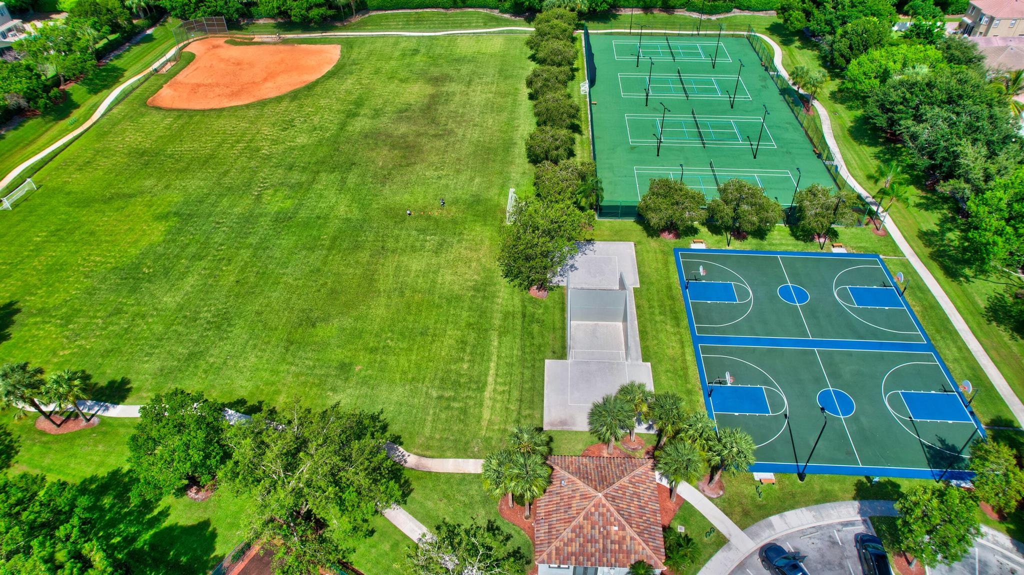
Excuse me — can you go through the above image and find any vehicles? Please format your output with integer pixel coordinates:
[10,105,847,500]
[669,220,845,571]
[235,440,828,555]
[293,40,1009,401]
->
[854,531,891,575]
[765,543,808,575]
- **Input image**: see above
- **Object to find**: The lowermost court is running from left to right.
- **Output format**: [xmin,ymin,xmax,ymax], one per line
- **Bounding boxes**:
[693,339,998,483]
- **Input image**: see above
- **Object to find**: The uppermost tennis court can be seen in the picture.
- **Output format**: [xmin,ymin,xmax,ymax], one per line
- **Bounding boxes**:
[589,35,764,68]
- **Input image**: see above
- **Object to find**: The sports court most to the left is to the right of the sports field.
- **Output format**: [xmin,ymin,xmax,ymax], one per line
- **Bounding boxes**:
[543,239,655,434]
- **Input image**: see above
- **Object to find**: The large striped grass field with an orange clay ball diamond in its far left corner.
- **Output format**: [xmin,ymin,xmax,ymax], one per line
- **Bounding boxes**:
[0,35,543,454]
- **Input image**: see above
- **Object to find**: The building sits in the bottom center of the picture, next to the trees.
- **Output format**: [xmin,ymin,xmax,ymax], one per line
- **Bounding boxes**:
[535,454,668,575]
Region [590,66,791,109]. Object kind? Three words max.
tennis court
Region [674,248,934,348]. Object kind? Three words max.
basketball court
